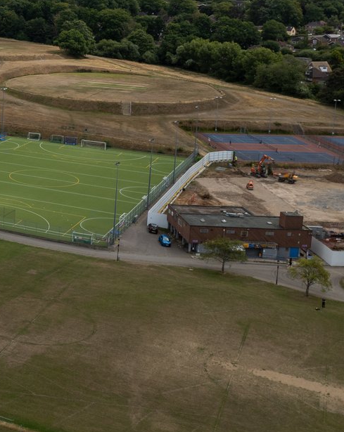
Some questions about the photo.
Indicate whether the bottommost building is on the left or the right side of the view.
right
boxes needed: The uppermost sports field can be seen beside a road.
[0,136,191,243]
